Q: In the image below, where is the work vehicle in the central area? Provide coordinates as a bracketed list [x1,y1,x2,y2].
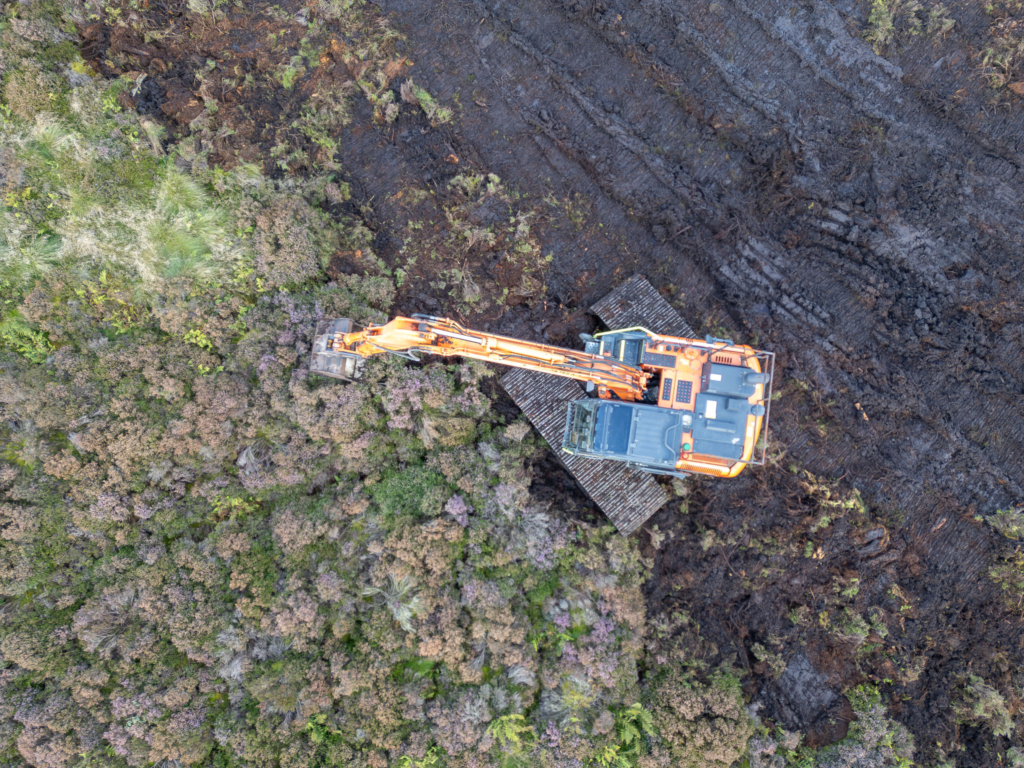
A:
[309,275,776,537]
